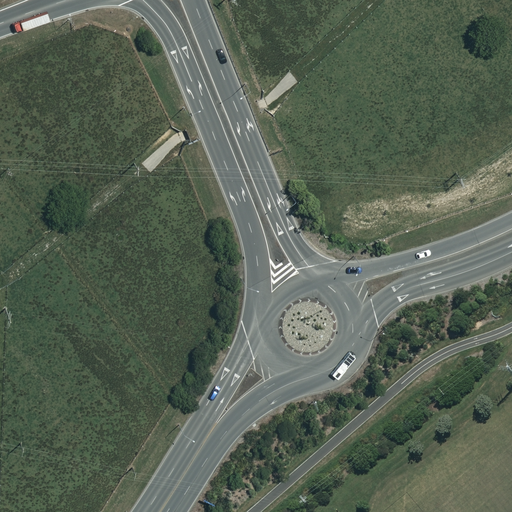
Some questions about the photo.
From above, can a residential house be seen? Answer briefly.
No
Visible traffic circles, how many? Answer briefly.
one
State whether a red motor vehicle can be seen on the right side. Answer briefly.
No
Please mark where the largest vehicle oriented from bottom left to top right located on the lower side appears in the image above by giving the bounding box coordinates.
[330,349,356,382]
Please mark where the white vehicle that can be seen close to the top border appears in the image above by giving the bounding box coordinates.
[10,12,52,34]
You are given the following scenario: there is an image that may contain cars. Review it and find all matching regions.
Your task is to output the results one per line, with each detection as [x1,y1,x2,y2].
[346,266,362,274]
[415,249,430,259]
[216,48,226,64]
[208,386,219,400]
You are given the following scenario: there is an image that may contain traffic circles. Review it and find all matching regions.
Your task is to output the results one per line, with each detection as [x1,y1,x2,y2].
[259,278,357,376]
